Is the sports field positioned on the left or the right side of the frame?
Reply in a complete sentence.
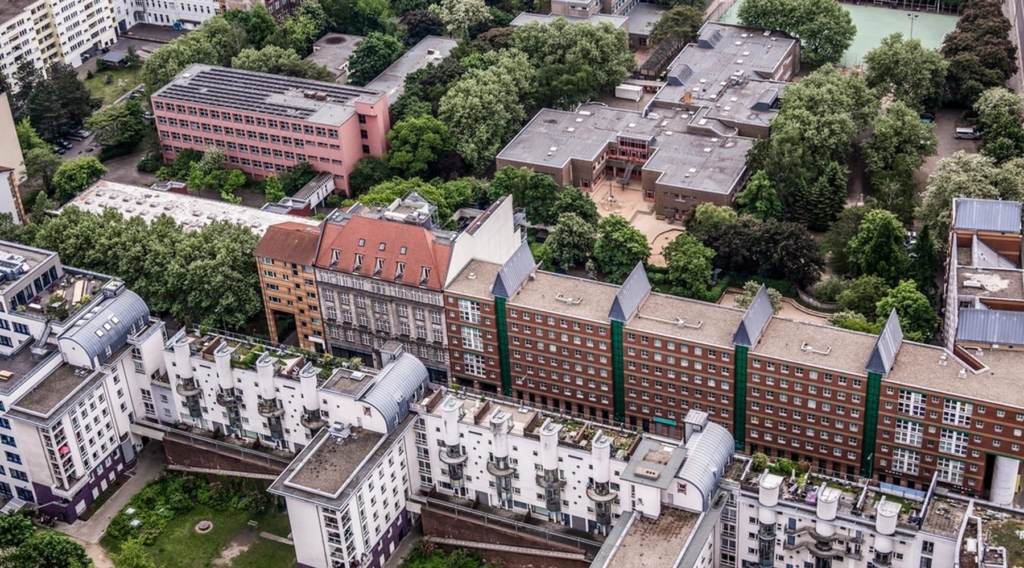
The sports field appears in the right half of the scene.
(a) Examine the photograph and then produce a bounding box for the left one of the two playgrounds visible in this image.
[577,170,689,272]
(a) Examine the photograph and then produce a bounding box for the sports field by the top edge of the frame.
[719,0,961,73]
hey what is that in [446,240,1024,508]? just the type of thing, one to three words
building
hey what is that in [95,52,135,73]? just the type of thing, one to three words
shed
